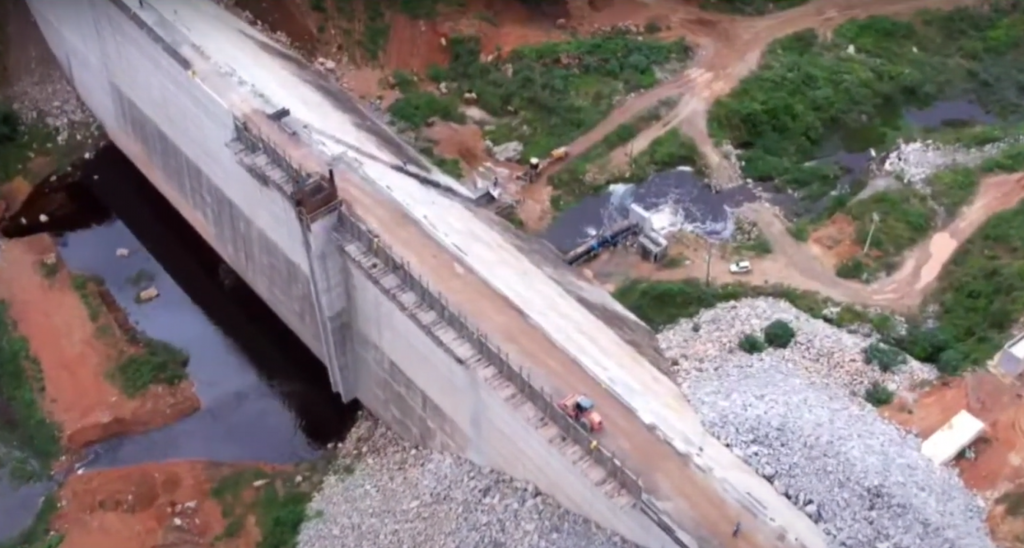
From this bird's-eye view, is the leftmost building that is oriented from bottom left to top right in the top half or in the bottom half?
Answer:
bottom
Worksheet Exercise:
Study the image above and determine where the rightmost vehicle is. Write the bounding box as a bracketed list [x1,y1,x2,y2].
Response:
[727,260,753,274]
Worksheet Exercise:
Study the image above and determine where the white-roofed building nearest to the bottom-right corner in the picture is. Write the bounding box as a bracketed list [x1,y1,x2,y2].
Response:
[919,411,985,466]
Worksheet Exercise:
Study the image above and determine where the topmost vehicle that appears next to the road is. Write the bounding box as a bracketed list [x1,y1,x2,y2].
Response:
[546,145,570,163]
